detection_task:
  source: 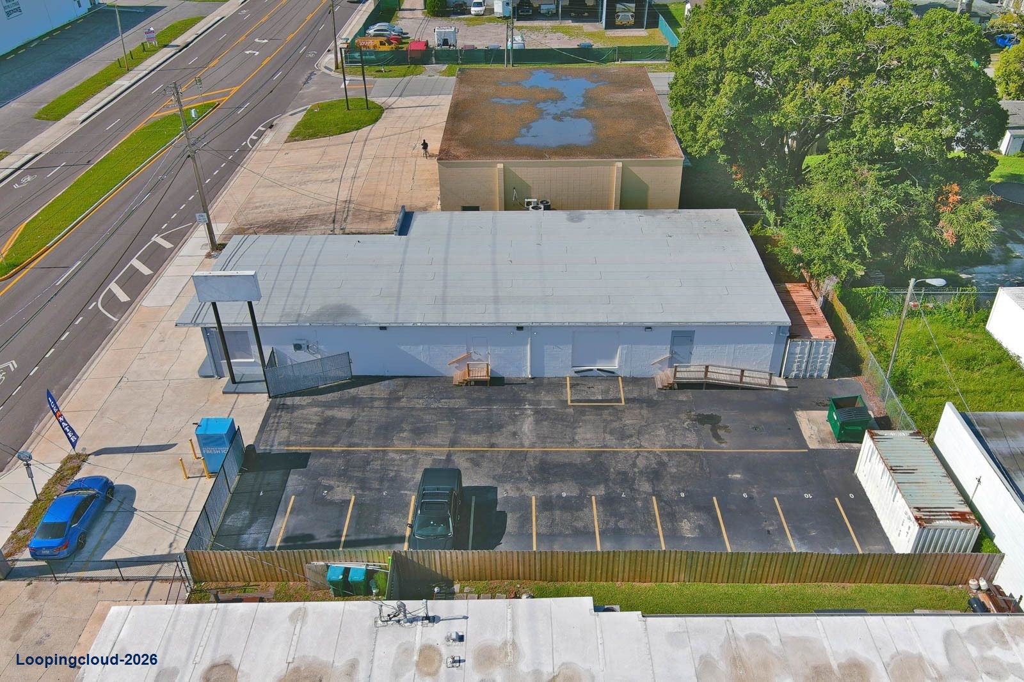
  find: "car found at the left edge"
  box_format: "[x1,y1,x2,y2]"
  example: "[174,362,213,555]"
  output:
[22,477,114,561]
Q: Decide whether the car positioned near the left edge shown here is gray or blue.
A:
blue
